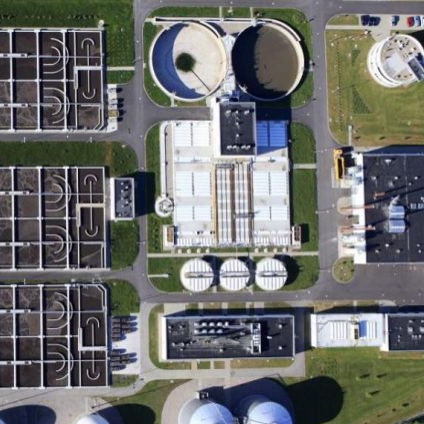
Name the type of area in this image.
industrial area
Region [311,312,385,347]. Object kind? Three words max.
building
